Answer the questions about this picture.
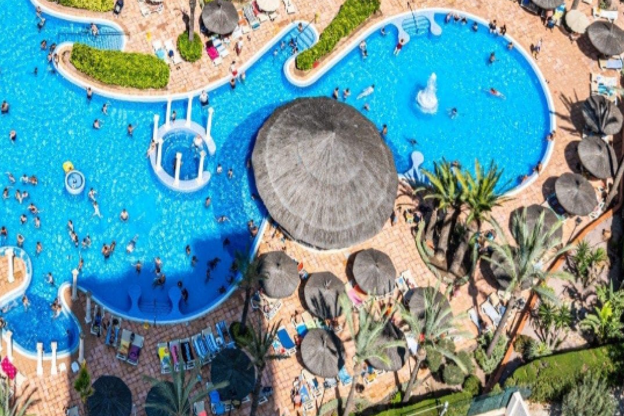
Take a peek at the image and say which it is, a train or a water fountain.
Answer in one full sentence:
Looking from above, you can make out a water fountain.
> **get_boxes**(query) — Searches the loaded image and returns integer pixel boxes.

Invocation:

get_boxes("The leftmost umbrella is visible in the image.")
[87,378,131,416]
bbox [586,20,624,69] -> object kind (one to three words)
umbrella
